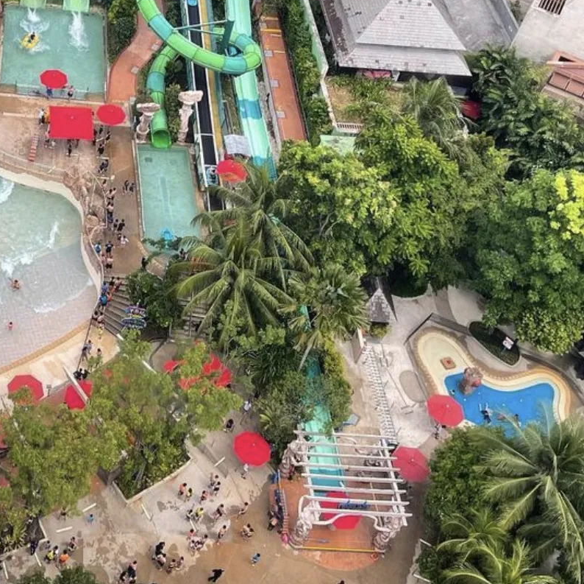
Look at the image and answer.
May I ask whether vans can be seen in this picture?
No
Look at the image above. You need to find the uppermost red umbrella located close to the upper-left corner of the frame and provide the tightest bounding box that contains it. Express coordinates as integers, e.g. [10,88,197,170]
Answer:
[39,71,67,92]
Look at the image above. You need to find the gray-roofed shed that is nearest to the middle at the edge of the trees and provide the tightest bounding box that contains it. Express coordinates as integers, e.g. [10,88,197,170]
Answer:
[357,280,392,343]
